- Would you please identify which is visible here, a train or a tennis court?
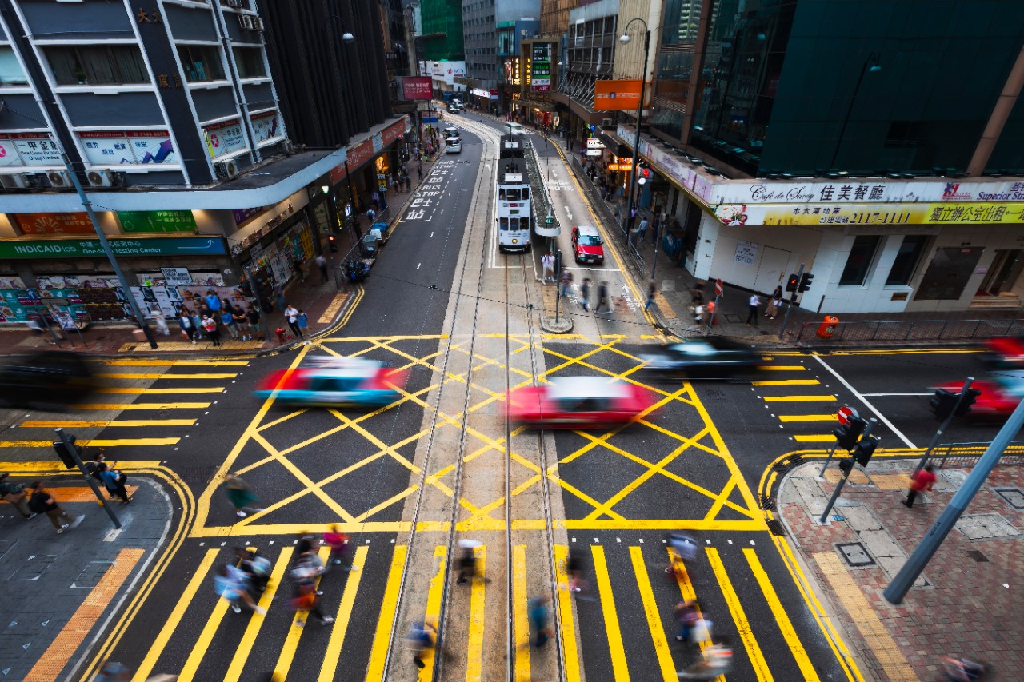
train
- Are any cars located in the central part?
Yes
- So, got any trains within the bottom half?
No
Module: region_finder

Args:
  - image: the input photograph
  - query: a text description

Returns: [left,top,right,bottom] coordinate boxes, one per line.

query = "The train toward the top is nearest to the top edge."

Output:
[501,117,526,157]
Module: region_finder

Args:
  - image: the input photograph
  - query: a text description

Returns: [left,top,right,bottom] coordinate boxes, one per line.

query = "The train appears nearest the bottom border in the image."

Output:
[496,138,534,249]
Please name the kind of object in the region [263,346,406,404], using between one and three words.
car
